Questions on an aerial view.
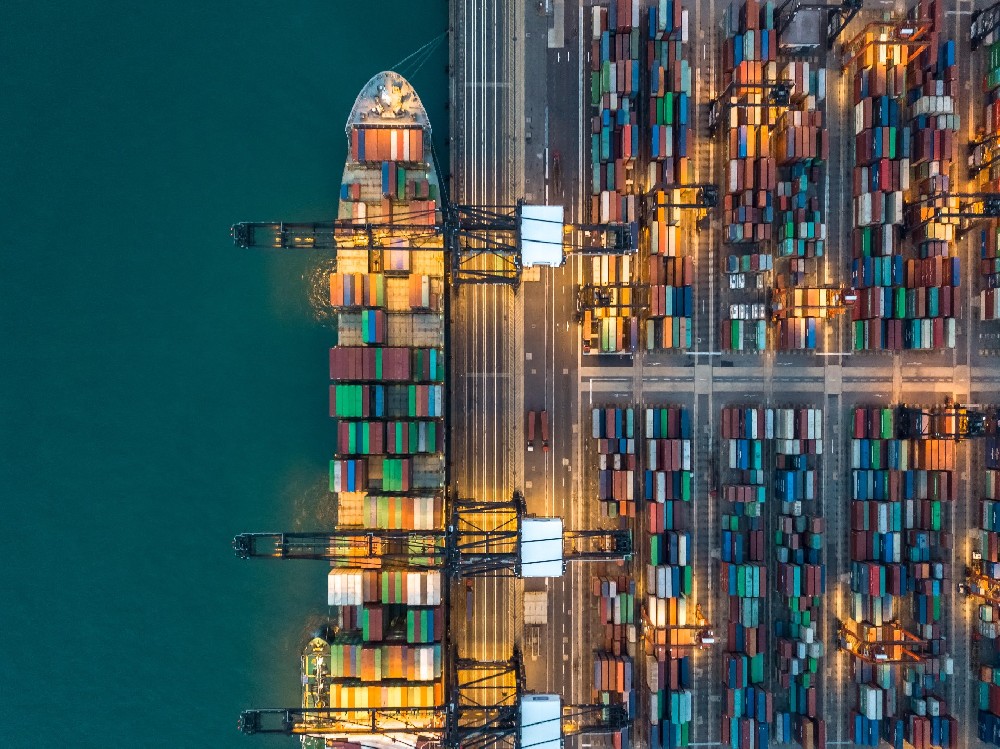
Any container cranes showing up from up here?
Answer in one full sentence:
Yes, you can see a container crane in this photo.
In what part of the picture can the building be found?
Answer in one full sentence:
Look in the top right portion of the view to spot the building.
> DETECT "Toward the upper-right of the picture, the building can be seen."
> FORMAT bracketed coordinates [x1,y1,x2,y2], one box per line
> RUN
[781,5,824,57]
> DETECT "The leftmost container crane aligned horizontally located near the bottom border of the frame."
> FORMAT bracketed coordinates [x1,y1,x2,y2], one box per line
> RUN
[229,629,641,749]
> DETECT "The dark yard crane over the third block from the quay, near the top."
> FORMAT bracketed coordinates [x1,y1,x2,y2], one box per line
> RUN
[710,81,801,136]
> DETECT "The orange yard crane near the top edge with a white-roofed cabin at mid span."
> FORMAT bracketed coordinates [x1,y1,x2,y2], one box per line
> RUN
[841,18,936,74]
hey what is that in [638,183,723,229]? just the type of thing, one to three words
crane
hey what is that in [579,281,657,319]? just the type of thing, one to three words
crane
